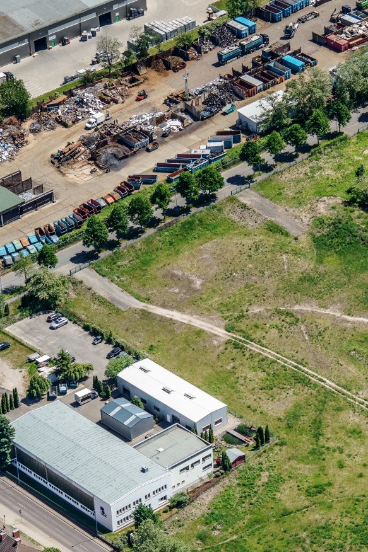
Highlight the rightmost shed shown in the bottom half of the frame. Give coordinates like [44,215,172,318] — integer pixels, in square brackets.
[219,446,245,470]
